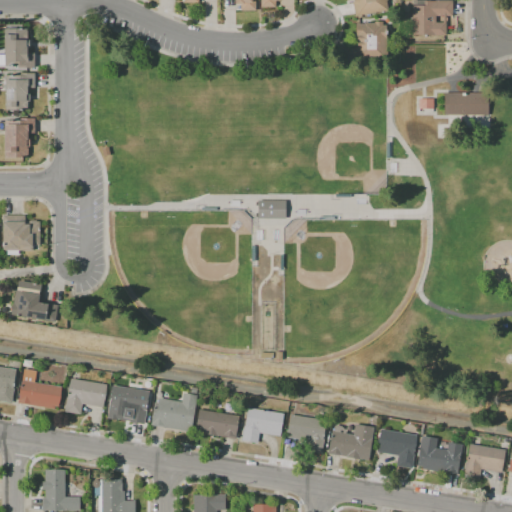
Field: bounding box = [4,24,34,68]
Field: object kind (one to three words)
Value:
house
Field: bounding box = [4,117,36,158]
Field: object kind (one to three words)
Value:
house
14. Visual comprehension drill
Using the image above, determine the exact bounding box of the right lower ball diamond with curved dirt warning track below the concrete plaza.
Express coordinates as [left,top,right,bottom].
[285,220,426,362]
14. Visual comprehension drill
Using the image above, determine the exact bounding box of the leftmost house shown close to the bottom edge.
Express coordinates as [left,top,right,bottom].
[44,470,80,512]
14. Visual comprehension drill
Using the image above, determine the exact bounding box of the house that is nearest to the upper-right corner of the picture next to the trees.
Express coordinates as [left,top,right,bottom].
[410,0,454,34]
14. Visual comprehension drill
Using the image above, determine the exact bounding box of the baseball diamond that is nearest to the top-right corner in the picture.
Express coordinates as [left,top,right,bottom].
[272,76,387,194]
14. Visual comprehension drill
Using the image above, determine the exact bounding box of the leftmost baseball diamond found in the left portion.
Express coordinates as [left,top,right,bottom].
[110,211,252,353]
